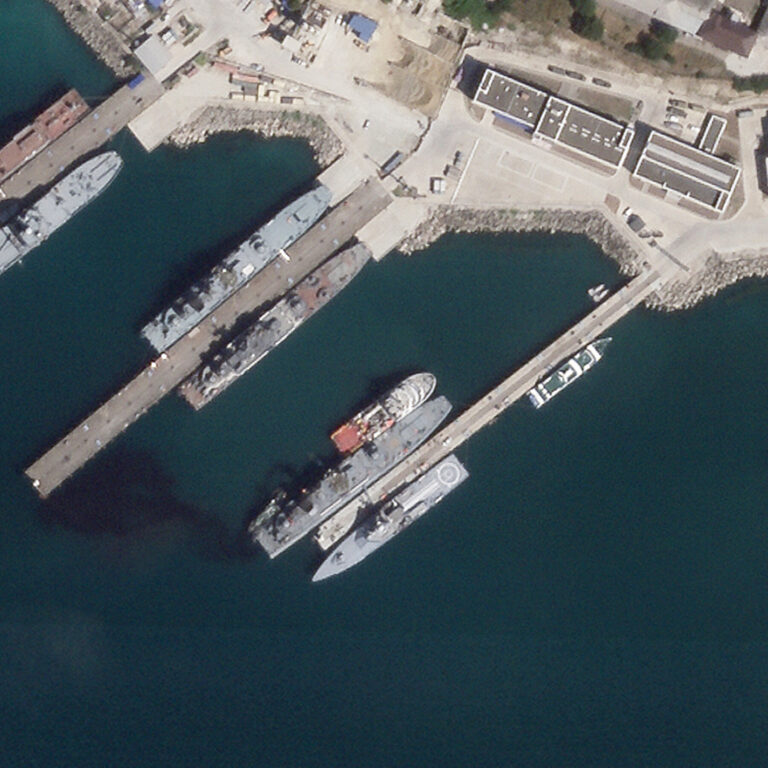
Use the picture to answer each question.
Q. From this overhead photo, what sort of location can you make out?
port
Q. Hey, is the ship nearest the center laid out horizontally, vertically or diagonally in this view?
diagonally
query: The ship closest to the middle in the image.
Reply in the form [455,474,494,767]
[331,373,435,452]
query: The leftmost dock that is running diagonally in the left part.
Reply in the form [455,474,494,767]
[0,68,164,220]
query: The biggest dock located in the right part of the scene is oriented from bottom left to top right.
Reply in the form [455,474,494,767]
[318,262,674,550]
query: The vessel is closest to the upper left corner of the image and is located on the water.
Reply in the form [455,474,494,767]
[0,91,91,184]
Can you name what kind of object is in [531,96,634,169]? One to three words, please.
building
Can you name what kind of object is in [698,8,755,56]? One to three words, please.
house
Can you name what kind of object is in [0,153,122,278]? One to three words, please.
ship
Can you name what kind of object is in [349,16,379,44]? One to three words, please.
building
